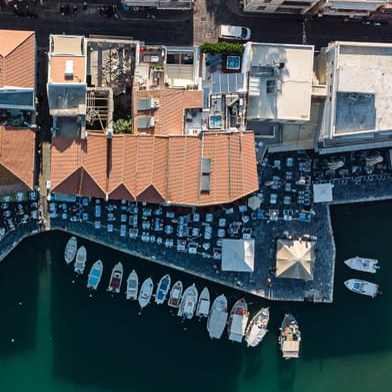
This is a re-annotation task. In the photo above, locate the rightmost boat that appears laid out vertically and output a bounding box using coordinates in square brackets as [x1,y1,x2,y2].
[280,314,301,358]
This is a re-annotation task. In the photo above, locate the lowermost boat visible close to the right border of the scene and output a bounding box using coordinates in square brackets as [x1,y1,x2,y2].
[344,279,381,298]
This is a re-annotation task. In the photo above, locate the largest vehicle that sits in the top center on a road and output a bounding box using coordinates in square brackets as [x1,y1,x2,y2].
[219,24,250,40]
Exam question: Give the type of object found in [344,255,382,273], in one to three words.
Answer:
boat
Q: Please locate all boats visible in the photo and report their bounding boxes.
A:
[228,294,252,341]
[344,255,382,273]
[247,301,275,348]
[280,314,301,358]
[179,280,200,321]
[126,259,143,302]
[169,281,182,308]
[344,279,381,298]
[138,274,154,308]
[64,235,77,264]
[109,252,128,294]
[75,242,90,275]
[197,282,217,319]
[86,258,101,292]
[155,273,171,307]
[208,289,231,339]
